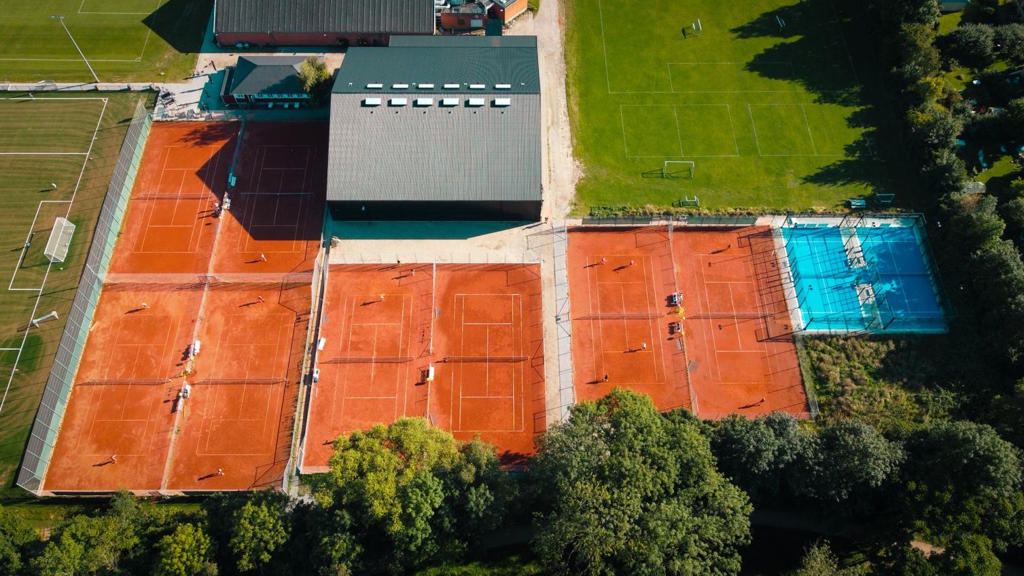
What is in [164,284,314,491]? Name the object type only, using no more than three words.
tennis court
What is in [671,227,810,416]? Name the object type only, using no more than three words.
tennis court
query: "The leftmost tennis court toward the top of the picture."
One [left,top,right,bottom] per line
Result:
[105,122,239,284]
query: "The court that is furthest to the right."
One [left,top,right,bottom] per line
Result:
[855,214,959,330]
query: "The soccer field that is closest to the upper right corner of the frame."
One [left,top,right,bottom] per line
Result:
[575,0,899,205]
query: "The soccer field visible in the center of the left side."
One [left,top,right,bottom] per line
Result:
[0,90,158,564]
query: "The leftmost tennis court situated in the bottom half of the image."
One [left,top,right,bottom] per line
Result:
[43,283,205,491]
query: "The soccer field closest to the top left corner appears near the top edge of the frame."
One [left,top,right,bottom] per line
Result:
[0,0,211,83]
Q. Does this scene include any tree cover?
Yes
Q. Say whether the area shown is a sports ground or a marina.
sports ground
